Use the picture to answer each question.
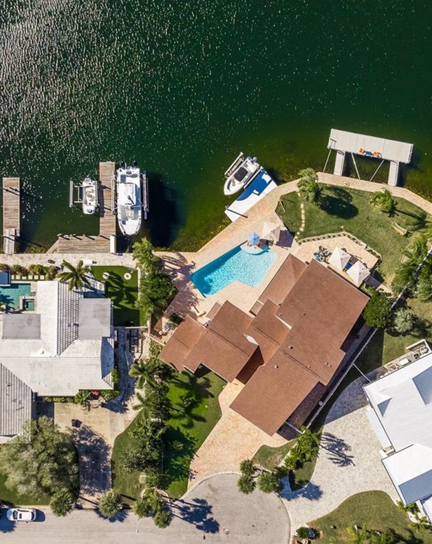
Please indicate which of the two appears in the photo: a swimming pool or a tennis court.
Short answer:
swimming pool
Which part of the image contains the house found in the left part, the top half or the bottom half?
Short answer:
bottom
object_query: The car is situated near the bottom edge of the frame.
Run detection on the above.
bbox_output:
[8,509,38,524]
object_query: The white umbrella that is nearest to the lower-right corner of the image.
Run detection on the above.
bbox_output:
[347,262,370,283]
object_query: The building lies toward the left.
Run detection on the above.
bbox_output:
[0,281,115,444]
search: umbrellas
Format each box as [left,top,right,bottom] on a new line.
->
[347,262,370,283]
[261,220,285,244]
[329,248,351,270]
[248,233,260,245]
